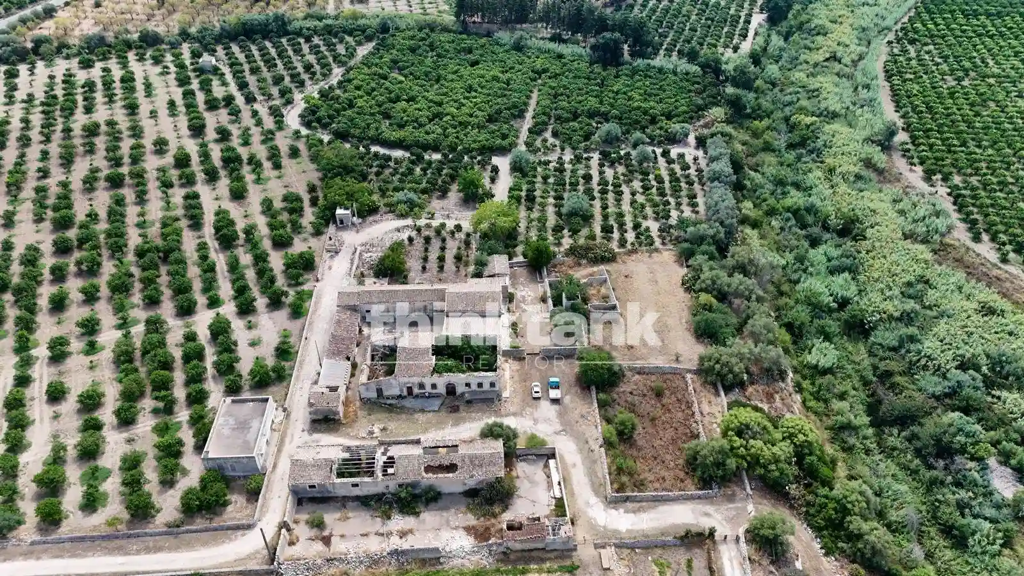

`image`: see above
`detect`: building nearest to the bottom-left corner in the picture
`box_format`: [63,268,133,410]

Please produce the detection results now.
[202,396,277,476]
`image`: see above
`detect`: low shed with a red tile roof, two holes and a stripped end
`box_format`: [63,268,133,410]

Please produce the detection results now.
[502,516,576,547]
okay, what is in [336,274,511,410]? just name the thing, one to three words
house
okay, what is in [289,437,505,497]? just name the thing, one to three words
barn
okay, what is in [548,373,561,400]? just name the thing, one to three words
vehicle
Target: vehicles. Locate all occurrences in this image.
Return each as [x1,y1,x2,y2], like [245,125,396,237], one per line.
[548,373,561,400]
[531,380,542,397]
